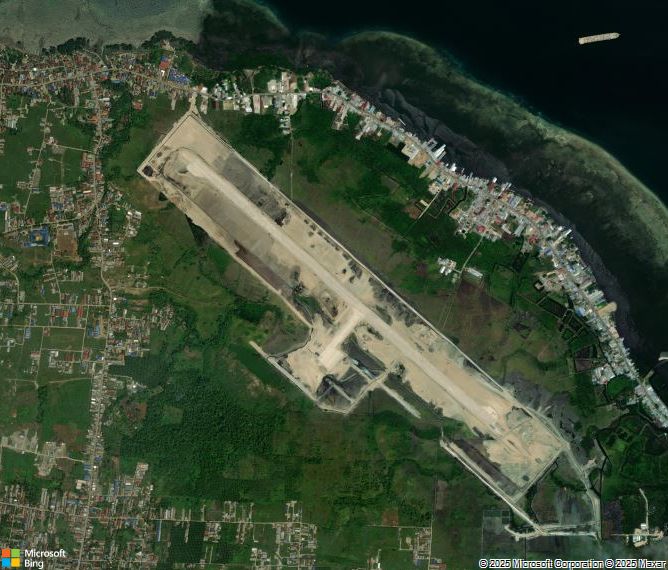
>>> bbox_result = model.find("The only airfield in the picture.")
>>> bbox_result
[138,113,568,500]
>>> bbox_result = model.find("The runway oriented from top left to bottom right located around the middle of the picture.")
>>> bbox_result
[185,155,501,432]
